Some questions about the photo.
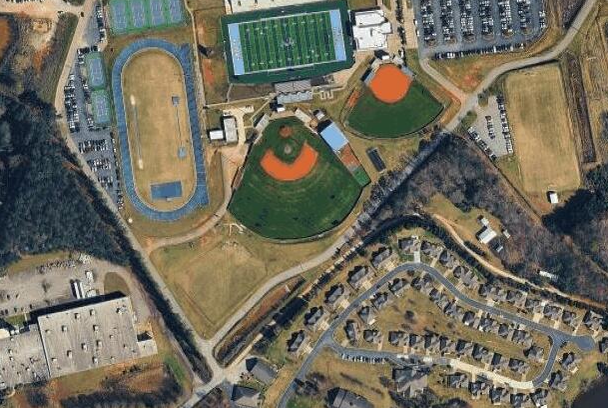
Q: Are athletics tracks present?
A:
Yes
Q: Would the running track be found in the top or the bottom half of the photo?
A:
top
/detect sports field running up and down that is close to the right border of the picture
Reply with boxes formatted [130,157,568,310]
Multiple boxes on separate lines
[506,64,582,197]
